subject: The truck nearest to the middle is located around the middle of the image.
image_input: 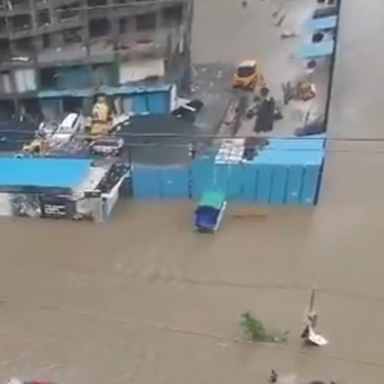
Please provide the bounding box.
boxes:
[196,187,231,231]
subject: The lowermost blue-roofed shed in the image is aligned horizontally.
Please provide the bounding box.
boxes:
[0,157,92,191]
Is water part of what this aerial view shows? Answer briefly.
Yes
